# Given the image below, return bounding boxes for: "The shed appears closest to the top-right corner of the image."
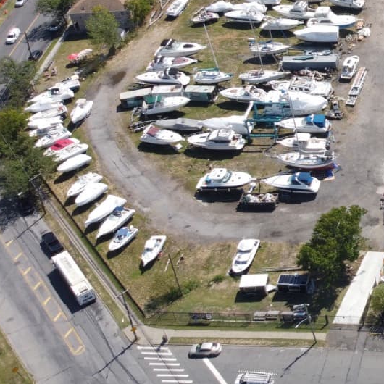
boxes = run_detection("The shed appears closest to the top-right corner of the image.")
[185,84,222,102]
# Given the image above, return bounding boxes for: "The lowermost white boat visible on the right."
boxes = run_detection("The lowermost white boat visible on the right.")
[232,239,268,272]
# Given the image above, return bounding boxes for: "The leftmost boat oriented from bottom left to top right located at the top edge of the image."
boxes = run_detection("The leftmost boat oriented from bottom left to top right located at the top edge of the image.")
[162,0,189,20]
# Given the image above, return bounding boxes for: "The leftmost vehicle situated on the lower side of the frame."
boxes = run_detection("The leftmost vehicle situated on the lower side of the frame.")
[42,231,58,257]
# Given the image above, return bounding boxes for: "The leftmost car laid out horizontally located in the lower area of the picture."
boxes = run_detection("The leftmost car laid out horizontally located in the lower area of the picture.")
[188,342,223,358]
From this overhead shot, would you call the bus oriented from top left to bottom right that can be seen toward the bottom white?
Yes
